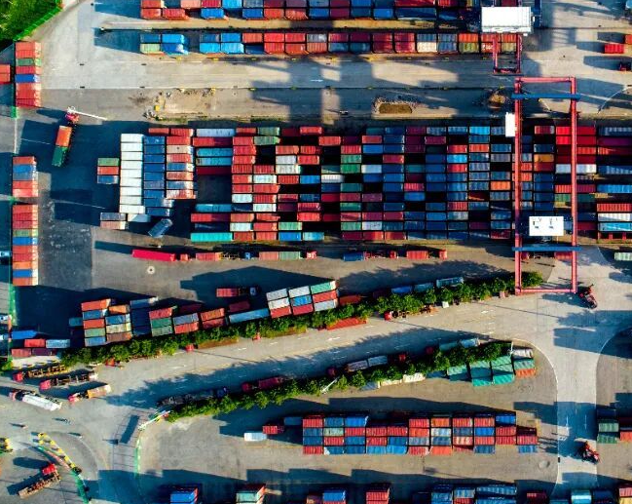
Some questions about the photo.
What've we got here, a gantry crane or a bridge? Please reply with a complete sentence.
Of the two, only a gantry crane appears.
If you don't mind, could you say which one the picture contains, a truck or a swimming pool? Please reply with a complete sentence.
Looking from above, you can make out a truck.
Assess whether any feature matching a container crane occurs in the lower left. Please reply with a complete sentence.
No, there is no container crane in the lower left.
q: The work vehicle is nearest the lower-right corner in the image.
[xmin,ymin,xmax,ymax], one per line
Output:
[566,430,600,465]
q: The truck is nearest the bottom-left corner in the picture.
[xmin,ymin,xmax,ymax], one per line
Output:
[20,466,71,498]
